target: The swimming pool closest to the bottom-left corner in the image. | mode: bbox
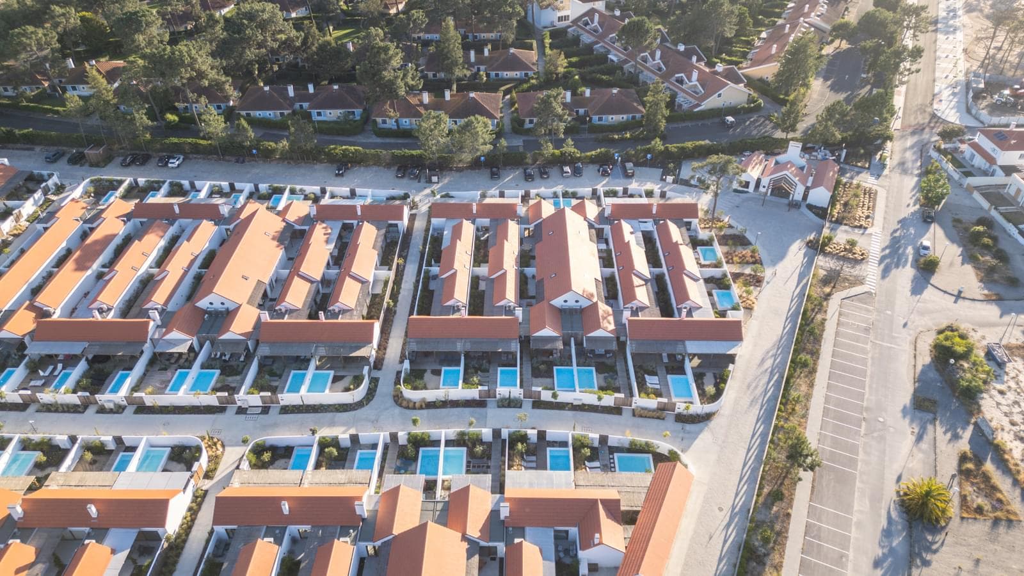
[1,450,38,476]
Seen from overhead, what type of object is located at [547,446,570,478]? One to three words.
swimming pool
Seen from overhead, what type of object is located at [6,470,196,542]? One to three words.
house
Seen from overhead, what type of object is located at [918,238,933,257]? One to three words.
car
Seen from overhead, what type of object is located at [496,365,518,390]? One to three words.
swimming pool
